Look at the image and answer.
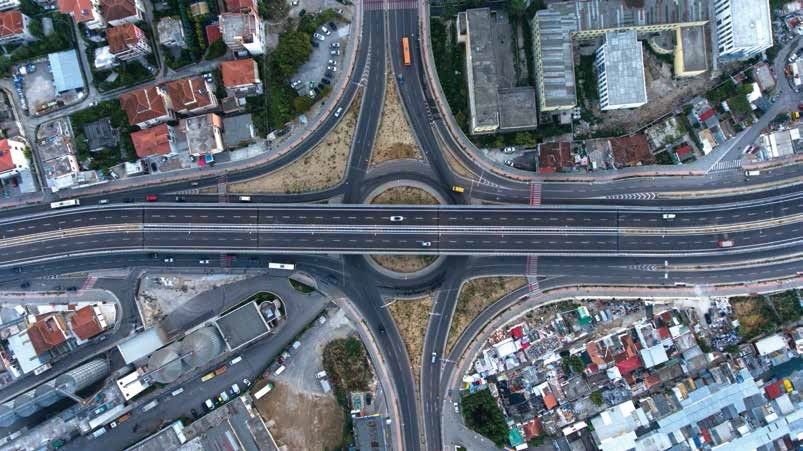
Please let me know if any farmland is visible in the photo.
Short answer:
No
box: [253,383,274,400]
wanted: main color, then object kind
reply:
white vehicle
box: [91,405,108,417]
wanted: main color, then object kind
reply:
blue vehicle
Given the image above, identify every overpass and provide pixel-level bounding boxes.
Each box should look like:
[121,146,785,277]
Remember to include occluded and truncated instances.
[0,191,803,268]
